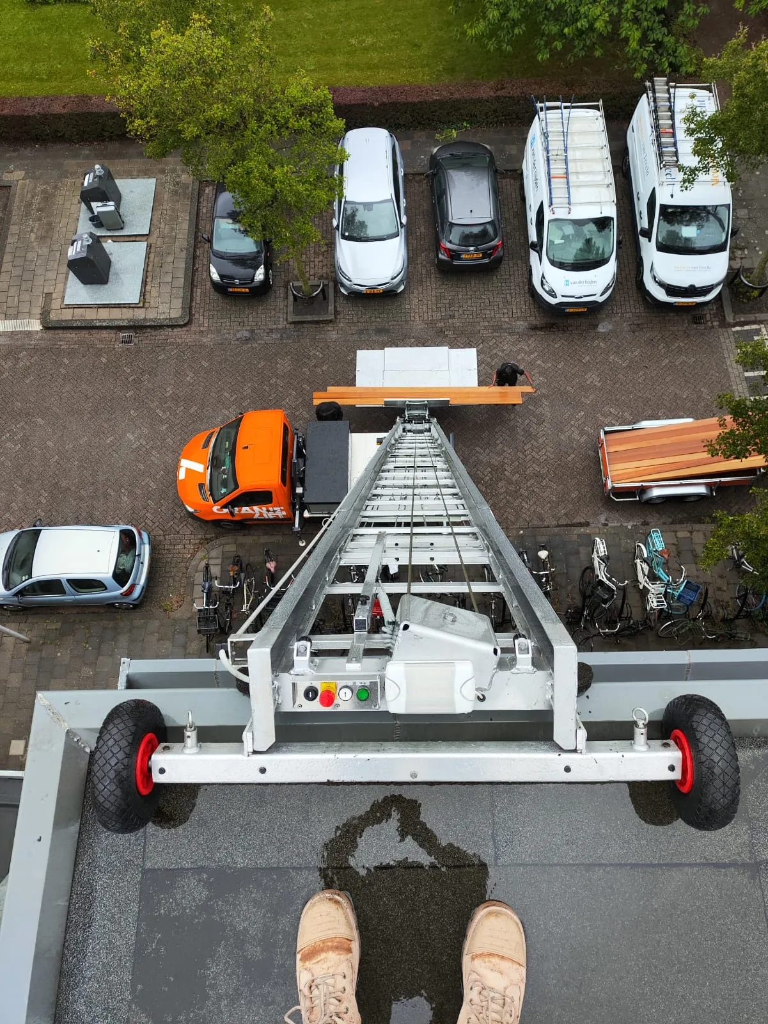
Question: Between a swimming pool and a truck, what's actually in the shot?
truck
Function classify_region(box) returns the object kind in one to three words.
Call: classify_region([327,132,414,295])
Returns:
car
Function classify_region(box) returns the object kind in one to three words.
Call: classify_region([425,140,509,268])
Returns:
car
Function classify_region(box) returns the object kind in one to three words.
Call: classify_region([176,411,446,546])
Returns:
truck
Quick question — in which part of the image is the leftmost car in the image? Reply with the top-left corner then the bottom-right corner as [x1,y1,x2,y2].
[0,511,155,604]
